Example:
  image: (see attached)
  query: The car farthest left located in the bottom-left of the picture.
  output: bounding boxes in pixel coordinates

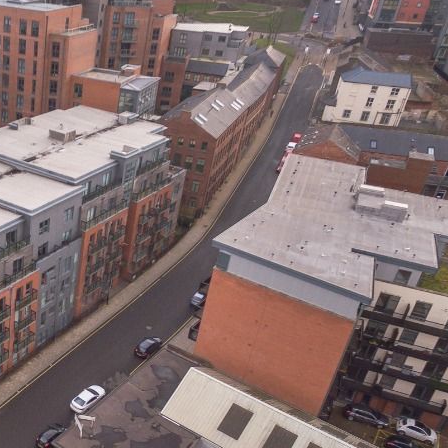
[32,421,66,448]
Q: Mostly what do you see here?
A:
buildings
